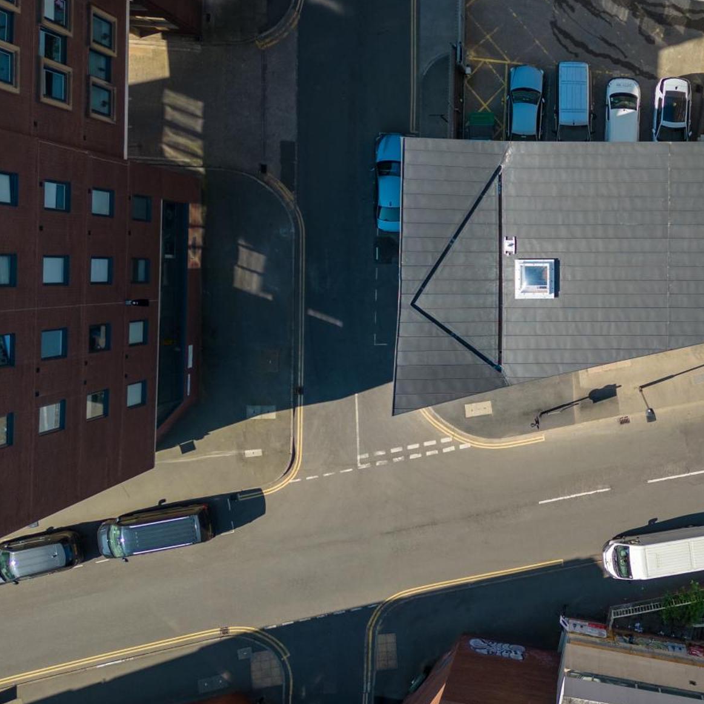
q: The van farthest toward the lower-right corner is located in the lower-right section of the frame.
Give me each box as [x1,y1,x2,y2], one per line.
[607,523,704,582]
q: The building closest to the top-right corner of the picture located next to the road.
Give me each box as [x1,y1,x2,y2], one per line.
[393,137,704,415]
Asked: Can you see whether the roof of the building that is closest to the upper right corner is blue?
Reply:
No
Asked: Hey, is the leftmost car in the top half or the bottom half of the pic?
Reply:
bottom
